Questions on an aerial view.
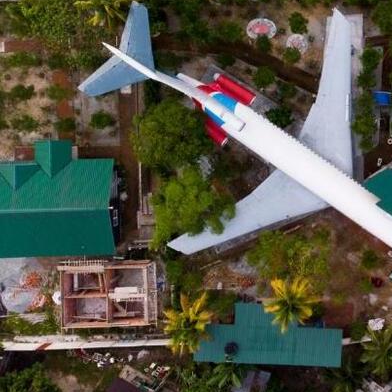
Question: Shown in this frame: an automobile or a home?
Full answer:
The image shows a home.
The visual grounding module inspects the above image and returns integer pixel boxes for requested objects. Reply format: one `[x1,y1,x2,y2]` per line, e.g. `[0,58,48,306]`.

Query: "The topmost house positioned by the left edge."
[0,139,122,256]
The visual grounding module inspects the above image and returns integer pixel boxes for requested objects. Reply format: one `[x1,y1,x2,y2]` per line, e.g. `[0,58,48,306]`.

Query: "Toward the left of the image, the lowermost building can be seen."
[99,365,161,392]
